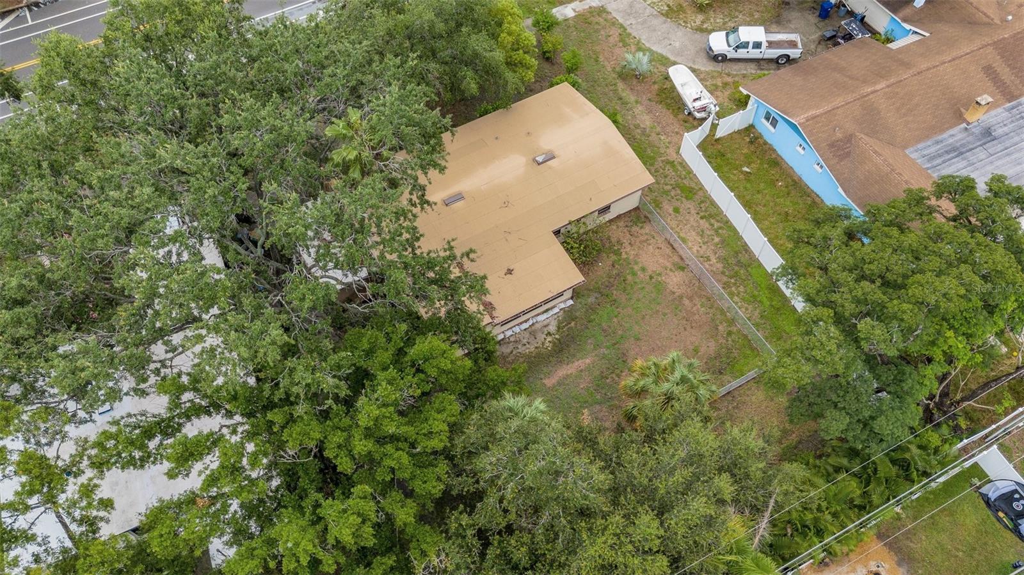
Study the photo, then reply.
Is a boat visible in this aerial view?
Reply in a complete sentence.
Yes, looking at the shot, I can spot a boat.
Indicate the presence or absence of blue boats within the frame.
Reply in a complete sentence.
No, the photo shows no blue boat.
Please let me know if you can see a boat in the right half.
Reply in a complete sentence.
Yes, in the right half there is a boat.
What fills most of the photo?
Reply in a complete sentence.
Most of the picture is covered by trees.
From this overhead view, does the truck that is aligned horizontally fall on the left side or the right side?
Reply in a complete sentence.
The truck that is aligned horizontally appears in the right half of the scene.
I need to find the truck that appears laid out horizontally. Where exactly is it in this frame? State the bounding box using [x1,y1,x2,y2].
[703,24,802,64]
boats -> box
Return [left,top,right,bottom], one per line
[670,59,725,122]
